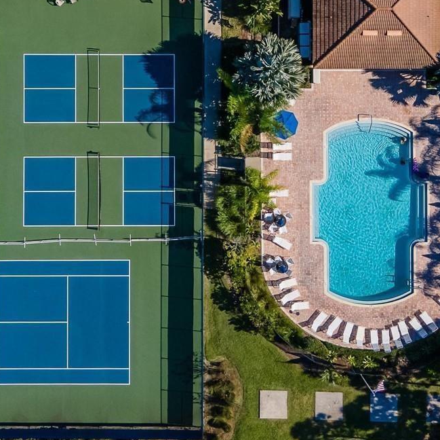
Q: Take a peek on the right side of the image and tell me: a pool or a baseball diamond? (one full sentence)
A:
The one visible on the right side of the image is a pool.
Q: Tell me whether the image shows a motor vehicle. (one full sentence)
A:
No, I can see no motor vehicle in this picture.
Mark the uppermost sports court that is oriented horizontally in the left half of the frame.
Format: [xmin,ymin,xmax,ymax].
[23,54,175,124]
